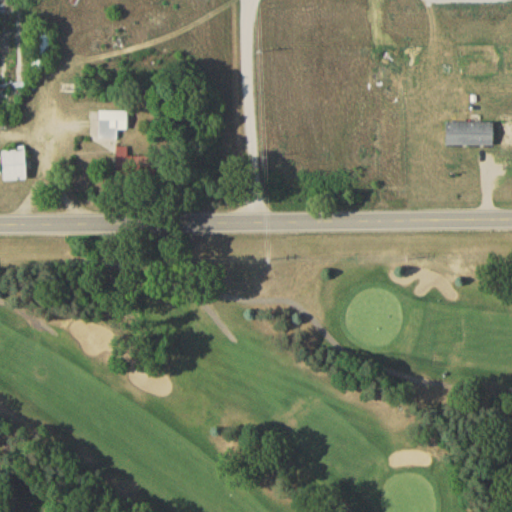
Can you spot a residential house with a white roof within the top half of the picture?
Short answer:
Yes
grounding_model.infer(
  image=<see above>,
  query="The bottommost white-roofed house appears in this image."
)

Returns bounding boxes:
[1,144,26,182]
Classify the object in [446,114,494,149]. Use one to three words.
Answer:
house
